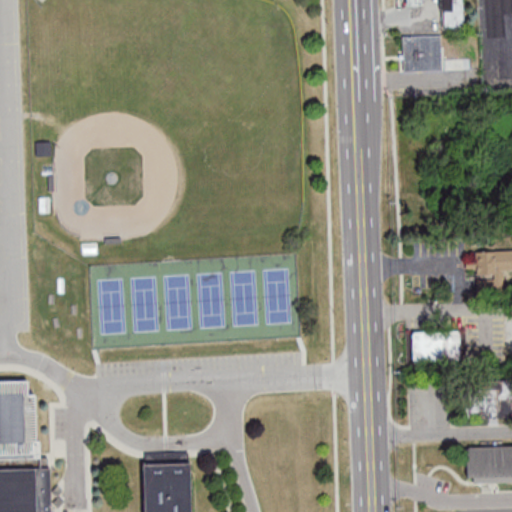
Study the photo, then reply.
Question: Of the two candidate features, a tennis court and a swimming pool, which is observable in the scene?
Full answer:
There is a tennis court in the scene.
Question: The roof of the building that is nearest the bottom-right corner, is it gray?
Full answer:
Yes, the roof of the building that is nearest the bottom-right corner is gray.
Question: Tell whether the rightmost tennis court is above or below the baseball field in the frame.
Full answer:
You can see the rightmost tennis court below the baseball field in the frame.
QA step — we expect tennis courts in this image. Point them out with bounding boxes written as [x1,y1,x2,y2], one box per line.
[98,279,126,334]
[197,273,225,328]
[164,275,192,330]
[230,271,258,326]
[263,269,291,324]
[131,277,159,332]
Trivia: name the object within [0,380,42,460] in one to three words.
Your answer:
building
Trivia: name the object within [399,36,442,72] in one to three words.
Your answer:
building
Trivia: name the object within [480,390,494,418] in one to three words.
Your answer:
house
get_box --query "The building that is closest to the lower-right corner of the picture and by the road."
[468,446,512,483]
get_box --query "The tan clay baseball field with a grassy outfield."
[21,0,304,264]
